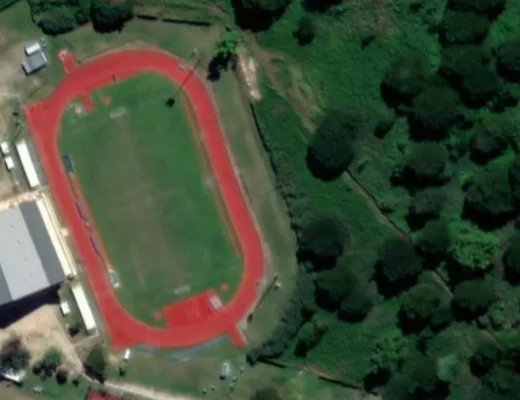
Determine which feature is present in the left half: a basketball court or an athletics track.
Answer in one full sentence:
The one visible in the left half is an athletics track.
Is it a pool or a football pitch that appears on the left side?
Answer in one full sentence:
Looking on the left side, you will find a football pitch.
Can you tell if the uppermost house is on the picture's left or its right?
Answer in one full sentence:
The uppermost house is on the left side of the image.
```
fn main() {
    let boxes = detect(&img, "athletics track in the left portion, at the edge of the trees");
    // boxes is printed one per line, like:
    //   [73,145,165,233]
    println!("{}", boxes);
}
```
[26,46,269,350]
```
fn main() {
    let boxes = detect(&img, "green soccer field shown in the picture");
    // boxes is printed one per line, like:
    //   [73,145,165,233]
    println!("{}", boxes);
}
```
[56,71,244,329]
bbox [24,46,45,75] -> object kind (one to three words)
house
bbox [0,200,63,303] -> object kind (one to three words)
building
